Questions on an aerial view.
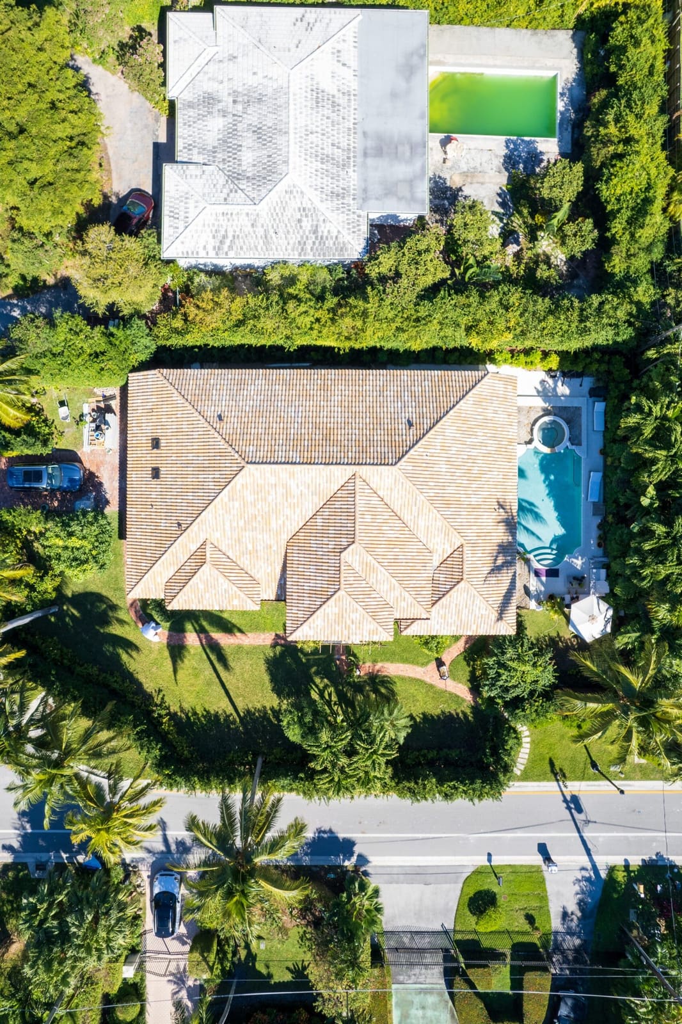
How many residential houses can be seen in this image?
2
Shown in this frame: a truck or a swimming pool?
swimming pool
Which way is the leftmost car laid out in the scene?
from left to right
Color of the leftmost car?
blue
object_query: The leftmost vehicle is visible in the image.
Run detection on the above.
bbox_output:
[9,459,88,494]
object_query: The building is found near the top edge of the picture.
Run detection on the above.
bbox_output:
[160,4,430,272]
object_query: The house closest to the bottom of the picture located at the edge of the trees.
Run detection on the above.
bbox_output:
[125,368,518,642]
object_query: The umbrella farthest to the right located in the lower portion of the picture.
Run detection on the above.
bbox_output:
[569,595,612,643]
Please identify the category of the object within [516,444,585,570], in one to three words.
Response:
swimming pool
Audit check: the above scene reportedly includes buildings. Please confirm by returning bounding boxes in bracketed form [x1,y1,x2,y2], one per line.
[160,4,430,272]
[125,368,518,642]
